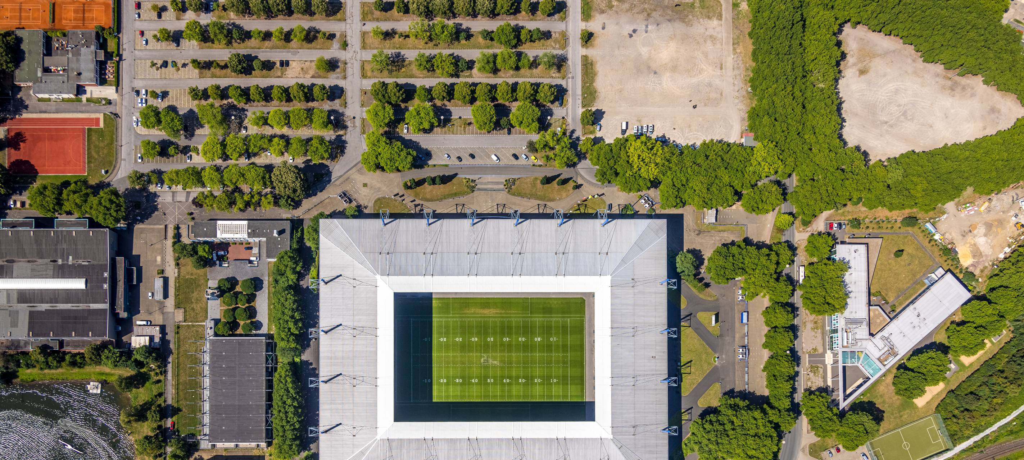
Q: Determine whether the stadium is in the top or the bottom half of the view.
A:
bottom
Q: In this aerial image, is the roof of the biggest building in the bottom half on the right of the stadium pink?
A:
No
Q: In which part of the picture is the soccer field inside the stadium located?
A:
bottom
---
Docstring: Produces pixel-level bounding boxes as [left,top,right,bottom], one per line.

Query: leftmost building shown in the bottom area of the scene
[0,219,118,356]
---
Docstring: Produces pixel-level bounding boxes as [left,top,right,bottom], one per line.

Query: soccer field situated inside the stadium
[396,298,585,422]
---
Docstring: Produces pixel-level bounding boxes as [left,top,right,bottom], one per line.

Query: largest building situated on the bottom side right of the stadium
[824,238,972,408]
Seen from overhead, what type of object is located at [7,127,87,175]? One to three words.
sports court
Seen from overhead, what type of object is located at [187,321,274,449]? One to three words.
building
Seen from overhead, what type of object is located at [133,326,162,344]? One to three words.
building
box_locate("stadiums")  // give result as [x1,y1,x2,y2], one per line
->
[309,208,678,460]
